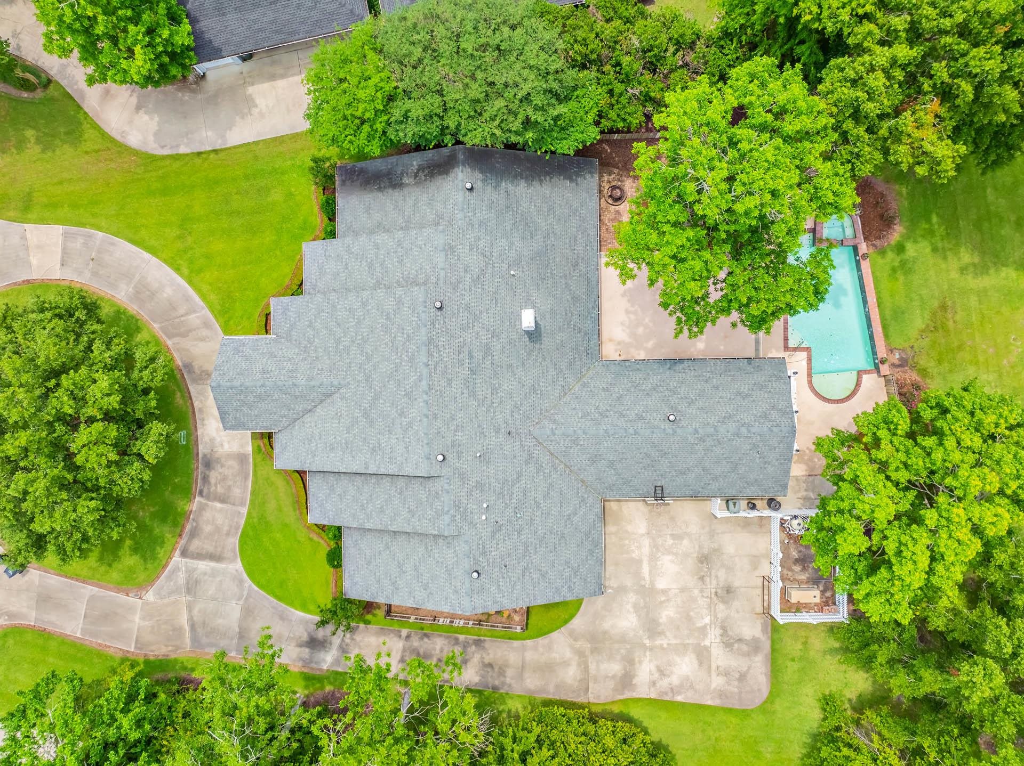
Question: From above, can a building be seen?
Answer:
Yes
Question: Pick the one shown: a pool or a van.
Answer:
pool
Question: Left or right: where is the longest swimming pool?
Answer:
right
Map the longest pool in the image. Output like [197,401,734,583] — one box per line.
[784,229,880,404]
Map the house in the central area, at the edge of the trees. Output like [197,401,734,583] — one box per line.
[209,146,799,614]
